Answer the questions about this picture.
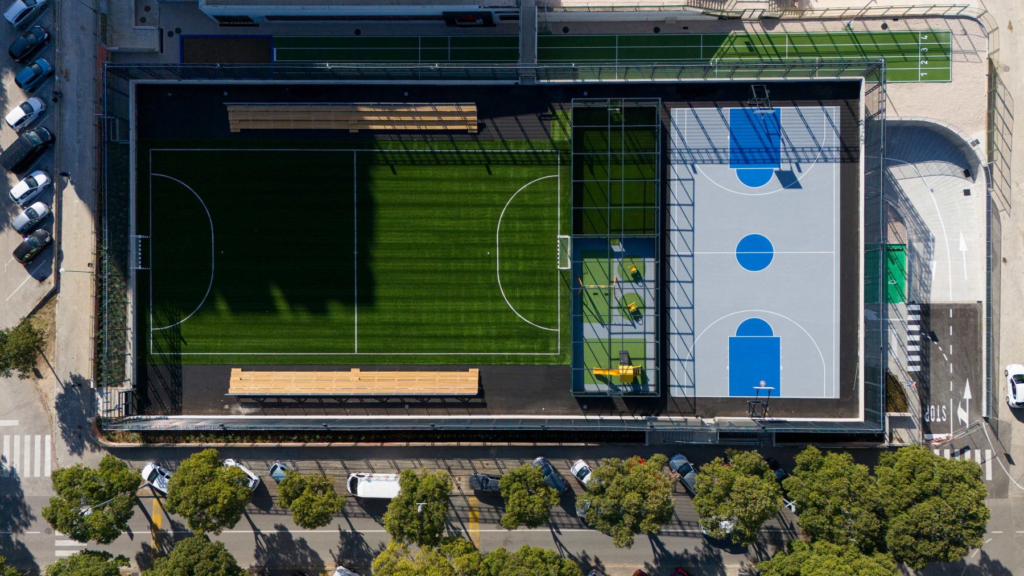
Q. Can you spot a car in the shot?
Yes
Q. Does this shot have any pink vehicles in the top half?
No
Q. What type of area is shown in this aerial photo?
sports ground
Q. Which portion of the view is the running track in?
top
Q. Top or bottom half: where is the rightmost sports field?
top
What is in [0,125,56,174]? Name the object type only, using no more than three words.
van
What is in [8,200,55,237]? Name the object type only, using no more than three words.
car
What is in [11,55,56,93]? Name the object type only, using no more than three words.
car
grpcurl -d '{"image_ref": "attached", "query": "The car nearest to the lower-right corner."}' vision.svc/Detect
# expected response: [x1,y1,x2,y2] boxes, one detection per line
[1002,364,1024,408]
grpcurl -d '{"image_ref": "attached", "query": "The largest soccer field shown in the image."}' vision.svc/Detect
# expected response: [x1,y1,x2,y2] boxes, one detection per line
[146,107,568,365]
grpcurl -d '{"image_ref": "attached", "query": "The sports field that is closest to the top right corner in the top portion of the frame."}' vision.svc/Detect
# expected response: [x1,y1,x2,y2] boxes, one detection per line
[570,111,650,246]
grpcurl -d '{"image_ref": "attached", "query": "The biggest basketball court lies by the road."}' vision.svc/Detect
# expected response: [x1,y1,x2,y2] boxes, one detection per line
[671,106,840,398]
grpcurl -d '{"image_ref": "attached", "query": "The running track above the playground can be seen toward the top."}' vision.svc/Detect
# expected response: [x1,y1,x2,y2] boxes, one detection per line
[274,30,952,77]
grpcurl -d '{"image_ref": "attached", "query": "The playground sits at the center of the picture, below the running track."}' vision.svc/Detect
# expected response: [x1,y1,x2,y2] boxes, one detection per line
[570,238,650,388]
